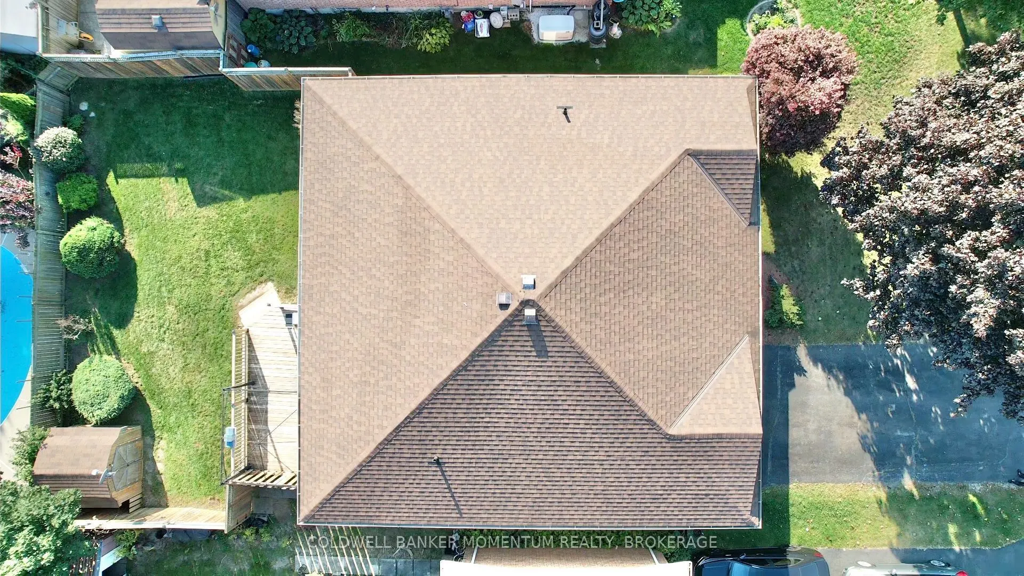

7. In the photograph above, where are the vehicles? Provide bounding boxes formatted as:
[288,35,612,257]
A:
[836,560,979,576]
[694,544,835,576]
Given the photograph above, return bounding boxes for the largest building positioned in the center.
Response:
[298,75,762,528]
